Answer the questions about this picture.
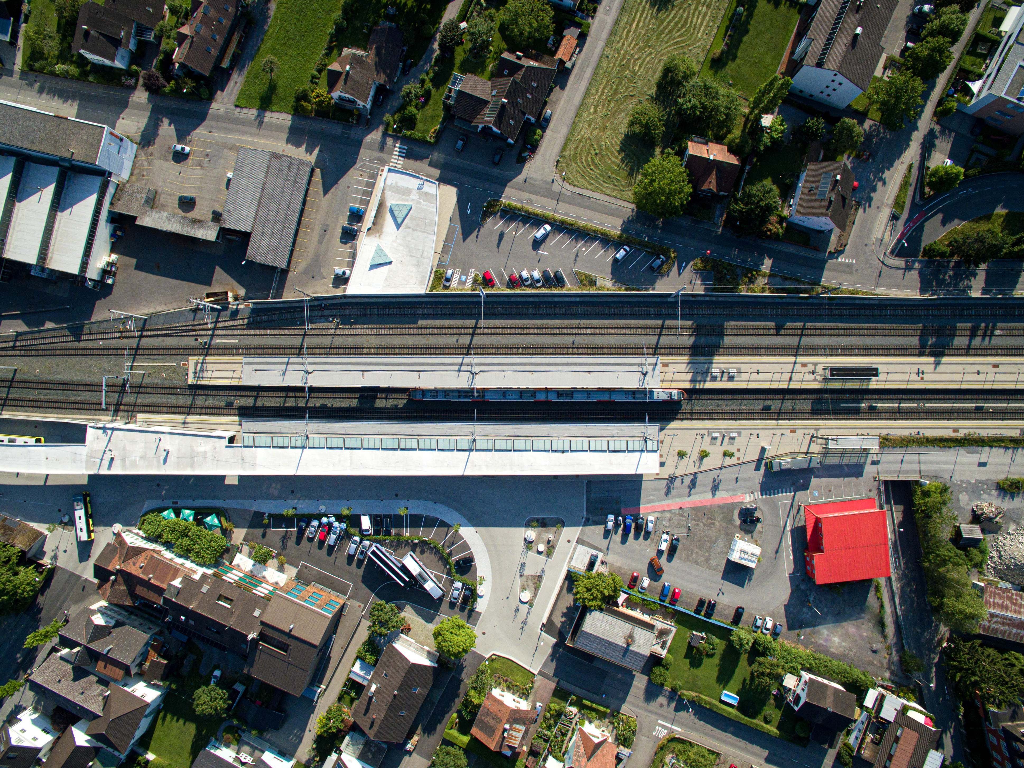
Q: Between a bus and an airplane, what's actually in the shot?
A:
bus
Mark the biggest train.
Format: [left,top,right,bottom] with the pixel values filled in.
[409,388,685,400]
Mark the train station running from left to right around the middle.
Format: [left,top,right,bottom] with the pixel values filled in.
[0,357,1024,478]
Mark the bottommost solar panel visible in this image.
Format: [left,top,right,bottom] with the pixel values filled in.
[816,172,833,199]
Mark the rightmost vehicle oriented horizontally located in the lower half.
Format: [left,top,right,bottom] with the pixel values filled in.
[766,455,819,472]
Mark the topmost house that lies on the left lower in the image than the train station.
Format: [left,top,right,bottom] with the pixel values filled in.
[0,508,50,554]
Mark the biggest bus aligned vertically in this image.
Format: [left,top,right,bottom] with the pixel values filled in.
[73,490,96,544]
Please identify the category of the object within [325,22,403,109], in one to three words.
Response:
house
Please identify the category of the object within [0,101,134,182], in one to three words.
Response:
building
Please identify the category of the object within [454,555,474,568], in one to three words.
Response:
vehicle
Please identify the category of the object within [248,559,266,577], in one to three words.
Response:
umbrella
